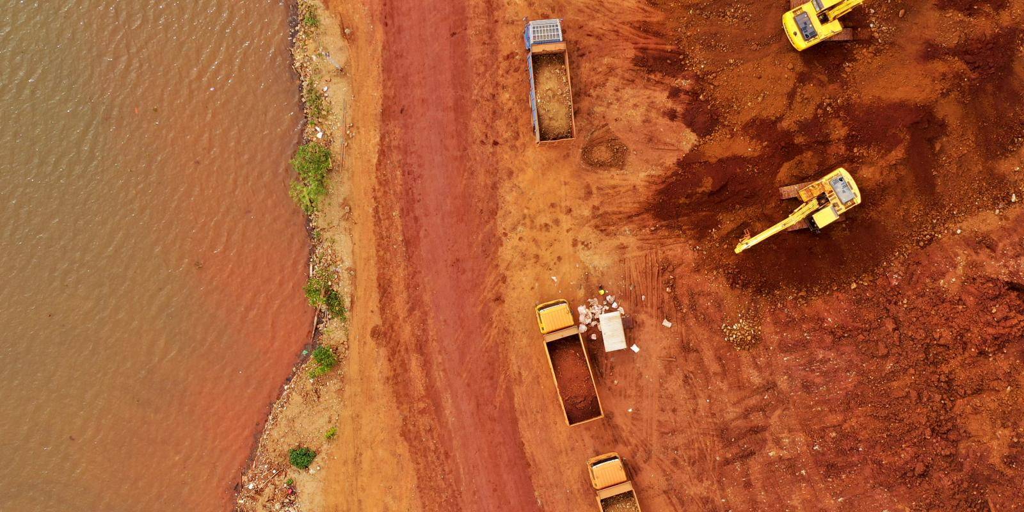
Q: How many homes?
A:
none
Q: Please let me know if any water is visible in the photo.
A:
Yes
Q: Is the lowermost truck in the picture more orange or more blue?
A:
orange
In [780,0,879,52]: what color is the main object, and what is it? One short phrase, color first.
yellow work vehicle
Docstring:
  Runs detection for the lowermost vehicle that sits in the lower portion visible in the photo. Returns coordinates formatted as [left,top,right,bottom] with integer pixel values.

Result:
[584,447,641,512]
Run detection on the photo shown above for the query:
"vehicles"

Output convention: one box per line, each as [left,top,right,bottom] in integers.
[780,0,879,52]
[525,17,578,147]
[533,299,603,427]
[730,168,860,252]
[584,447,641,512]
